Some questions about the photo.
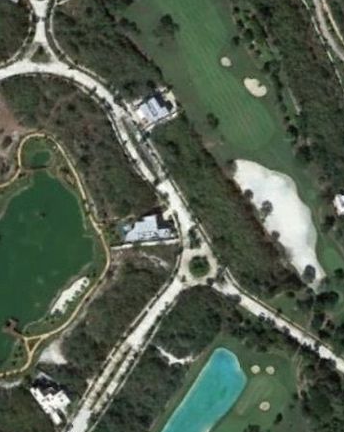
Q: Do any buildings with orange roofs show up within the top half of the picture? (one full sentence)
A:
No, I can find no building with an orange roof within the top half of the picture.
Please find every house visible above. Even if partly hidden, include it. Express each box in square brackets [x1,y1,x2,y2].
[333,193,344,216]
[31,374,71,425]
[134,90,177,126]
[122,214,172,243]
